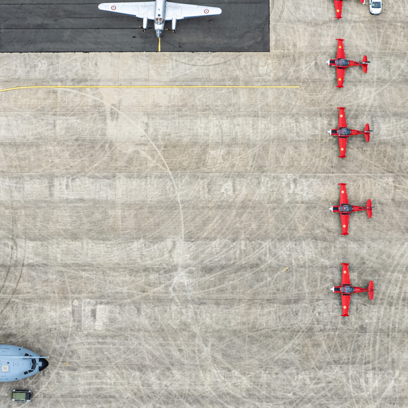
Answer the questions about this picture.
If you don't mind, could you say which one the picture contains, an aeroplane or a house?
aeroplane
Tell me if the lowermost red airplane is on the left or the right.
right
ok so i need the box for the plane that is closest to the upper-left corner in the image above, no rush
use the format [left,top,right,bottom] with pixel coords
[99,0,221,38]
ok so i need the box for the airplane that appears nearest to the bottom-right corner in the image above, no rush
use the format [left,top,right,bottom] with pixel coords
[330,263,375,317]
